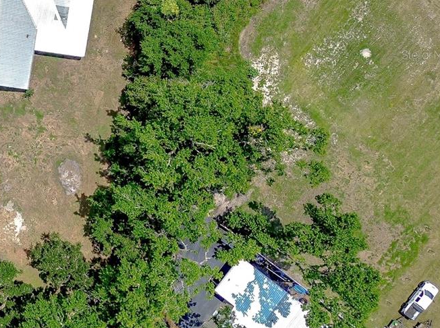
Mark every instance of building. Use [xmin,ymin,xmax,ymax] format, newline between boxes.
[212,258,322,328]
[0,0,93,91]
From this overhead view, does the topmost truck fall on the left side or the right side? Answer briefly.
right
